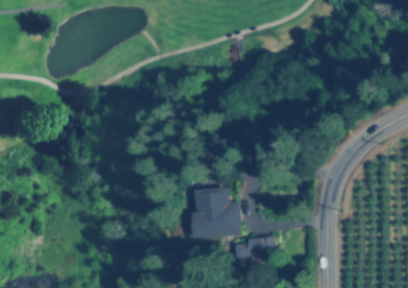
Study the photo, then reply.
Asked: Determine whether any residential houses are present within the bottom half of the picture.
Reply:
Yes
